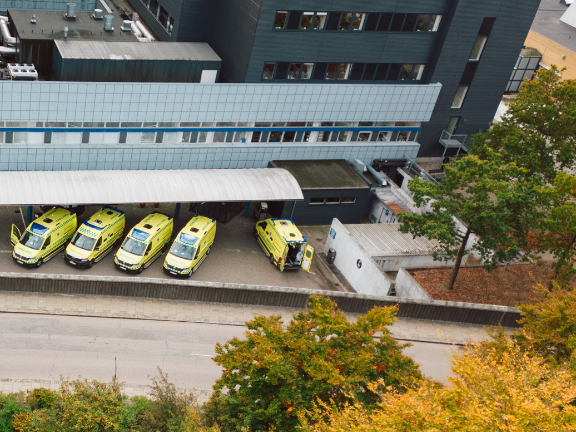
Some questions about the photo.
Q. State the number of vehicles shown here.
5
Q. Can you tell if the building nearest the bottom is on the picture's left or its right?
right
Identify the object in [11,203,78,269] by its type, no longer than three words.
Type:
van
